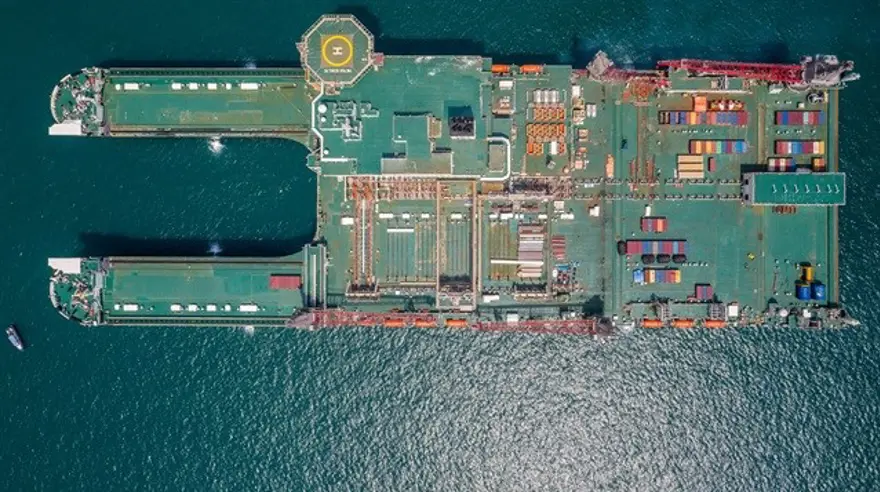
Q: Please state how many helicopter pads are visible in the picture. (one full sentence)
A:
The photo contains exactly 1 helicopter pad.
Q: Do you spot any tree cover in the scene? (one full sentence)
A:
No, the picture contains no tree cover.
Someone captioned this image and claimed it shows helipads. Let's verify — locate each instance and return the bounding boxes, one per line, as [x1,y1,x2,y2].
[296,15,384,93]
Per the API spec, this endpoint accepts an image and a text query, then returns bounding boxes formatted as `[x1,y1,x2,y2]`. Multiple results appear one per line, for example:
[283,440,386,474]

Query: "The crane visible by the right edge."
[656,55,860,96]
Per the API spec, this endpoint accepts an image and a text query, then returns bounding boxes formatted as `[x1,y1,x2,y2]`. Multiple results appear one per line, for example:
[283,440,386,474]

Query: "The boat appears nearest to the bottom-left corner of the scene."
[3,325,21,349]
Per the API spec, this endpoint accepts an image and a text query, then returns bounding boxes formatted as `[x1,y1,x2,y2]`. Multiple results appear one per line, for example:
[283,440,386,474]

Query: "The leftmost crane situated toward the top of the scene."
[573,50,667,86]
